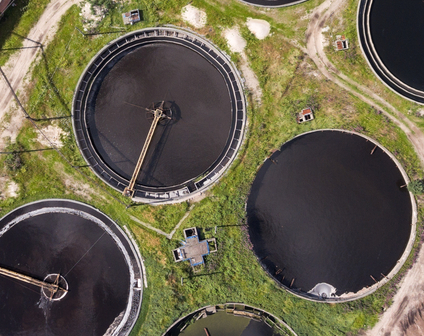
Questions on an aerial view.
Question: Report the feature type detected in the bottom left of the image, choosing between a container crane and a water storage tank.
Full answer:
What appears in the bottom left of the image is a water storage tank.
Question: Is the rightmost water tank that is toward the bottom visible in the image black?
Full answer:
Yes, the rightmost water tank that is toward the bottom is indeed black.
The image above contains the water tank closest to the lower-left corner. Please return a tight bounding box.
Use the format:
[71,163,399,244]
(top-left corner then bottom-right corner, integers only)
[0,198,147,336]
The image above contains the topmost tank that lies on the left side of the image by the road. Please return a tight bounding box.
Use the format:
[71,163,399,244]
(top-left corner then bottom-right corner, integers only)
[70,27,249,208]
